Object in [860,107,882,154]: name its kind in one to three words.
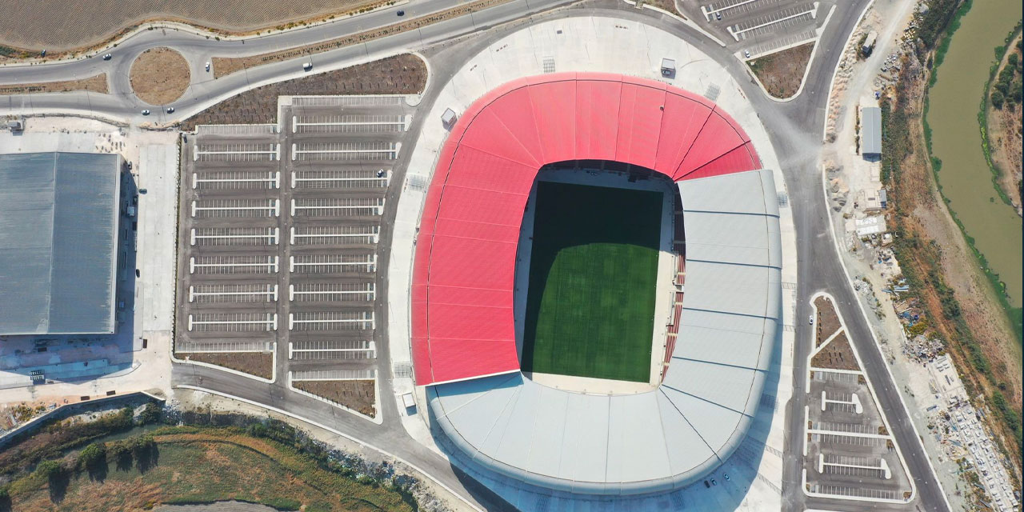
shed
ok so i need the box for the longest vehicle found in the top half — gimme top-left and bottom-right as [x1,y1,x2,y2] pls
[861,27,879,52]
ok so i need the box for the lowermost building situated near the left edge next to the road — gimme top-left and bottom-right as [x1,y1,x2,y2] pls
[0,151,124,335]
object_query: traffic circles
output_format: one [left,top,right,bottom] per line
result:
[128,45,192,107]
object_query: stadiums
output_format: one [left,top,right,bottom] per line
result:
[411,71,783,495]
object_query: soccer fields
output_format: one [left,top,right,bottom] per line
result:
[522,182,663,383]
